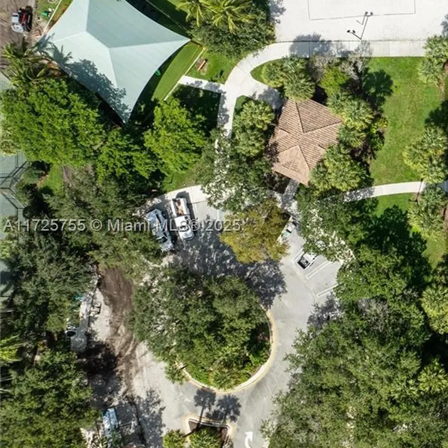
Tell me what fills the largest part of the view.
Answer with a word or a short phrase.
trees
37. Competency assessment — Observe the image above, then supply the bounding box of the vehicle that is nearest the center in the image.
[169,198,196,240]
